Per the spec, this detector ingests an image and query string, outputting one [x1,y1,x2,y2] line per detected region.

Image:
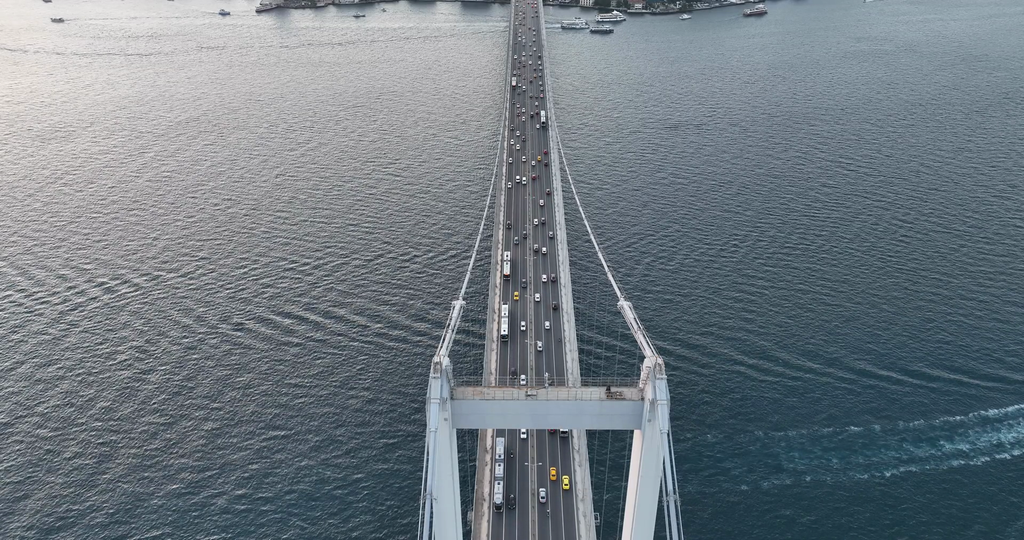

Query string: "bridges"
[413,0,689,540]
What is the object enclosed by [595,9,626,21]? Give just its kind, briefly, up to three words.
ship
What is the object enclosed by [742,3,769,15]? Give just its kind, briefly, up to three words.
ship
